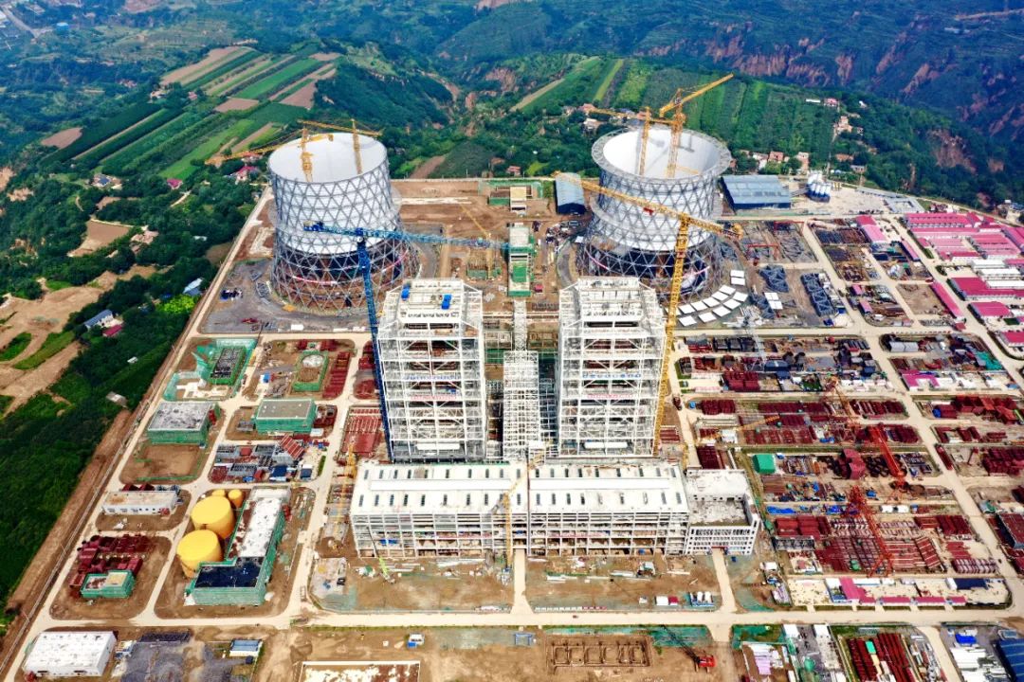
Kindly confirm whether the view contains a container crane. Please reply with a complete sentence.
Yes, I can see a container crane in this picture.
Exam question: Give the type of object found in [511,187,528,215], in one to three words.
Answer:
building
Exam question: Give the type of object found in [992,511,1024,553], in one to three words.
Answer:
shed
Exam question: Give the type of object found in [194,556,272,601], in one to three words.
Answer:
building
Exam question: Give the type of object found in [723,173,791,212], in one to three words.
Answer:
shed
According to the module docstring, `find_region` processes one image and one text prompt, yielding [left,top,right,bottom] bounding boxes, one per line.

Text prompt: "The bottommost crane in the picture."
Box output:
[664,625,720,666]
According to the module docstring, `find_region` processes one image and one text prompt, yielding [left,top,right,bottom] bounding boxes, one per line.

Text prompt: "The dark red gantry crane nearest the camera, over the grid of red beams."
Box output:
[845,490,898,575]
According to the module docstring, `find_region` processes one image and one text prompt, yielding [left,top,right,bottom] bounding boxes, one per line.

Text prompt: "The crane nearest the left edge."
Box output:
[206,130,333,179]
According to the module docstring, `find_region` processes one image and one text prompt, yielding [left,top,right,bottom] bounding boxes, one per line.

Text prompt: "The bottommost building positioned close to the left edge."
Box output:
[26,630,122,682]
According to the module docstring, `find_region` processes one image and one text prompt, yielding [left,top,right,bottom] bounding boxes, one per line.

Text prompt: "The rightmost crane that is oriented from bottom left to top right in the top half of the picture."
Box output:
[660,74,734,171]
